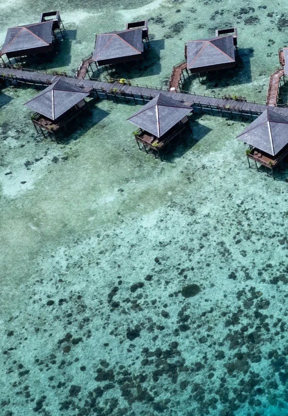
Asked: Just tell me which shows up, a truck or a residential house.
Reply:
residential house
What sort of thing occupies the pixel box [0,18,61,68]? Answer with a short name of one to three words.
house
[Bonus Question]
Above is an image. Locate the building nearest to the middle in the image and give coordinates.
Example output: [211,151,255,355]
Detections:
[123,99,192,166]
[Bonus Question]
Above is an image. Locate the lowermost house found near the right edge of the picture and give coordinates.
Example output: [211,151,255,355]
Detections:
[235,115,288,185]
